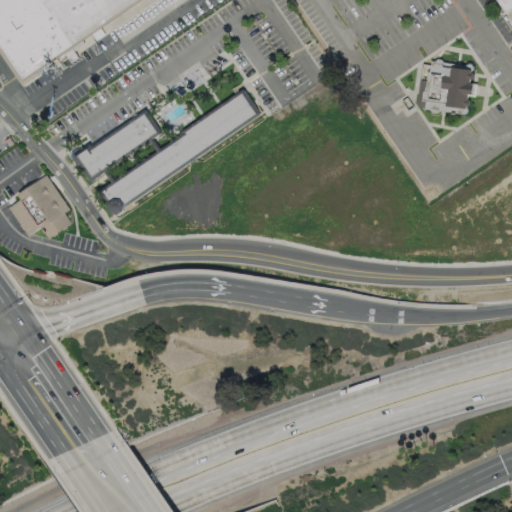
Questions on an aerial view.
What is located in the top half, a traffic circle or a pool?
pool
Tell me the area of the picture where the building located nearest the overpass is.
left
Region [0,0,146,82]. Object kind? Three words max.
building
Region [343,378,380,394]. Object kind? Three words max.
vehicle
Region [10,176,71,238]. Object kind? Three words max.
building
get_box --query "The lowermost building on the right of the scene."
[418,57,477,116]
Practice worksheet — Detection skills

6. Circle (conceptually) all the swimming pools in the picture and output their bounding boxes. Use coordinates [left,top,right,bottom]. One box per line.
[156,100,196,126]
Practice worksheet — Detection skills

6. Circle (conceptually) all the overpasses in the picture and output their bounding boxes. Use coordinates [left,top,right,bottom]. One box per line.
[0,260,178,512]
